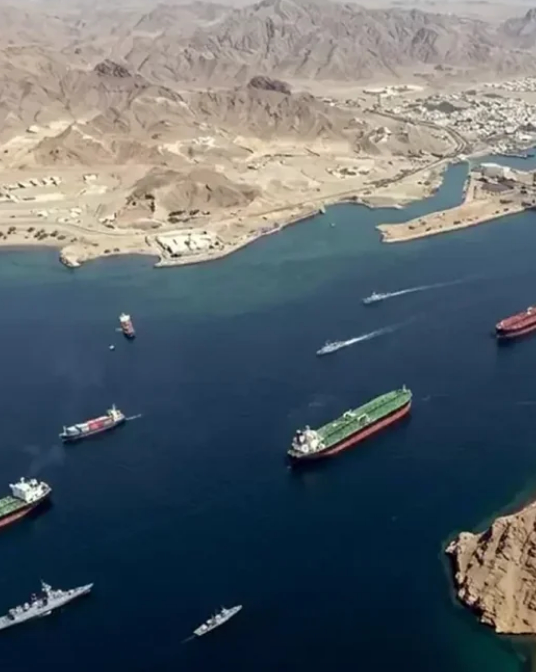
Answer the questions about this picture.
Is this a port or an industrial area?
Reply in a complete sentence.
This image shows a port.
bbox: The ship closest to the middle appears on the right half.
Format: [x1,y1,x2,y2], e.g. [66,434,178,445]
[317,341,346,353]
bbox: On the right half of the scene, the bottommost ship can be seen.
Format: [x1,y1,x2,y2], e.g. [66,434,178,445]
[289,393,413,459]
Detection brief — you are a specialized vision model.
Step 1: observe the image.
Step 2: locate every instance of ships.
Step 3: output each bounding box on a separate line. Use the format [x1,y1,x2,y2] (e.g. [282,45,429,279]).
[0,582,90,629]
[497,310,536,334]
[363,291,390,302]
[317,341,346,353]
[196,606,239,634]
[289,393,413,459]
[117,310,137,338]
[0,471,50,527]
[63,406,125,440]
